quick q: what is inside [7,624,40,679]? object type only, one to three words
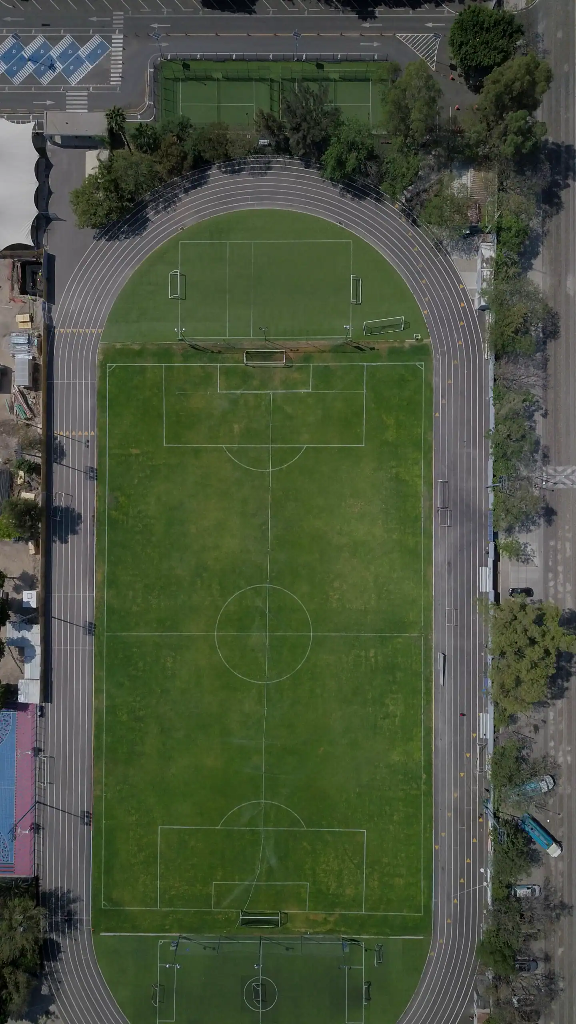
shed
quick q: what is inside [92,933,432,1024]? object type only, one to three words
soccer field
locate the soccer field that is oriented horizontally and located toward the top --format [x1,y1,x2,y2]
[101,208,430,343]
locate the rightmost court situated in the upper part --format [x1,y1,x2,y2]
[281,69,390,132]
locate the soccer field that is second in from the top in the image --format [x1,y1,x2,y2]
[91,343,434,935]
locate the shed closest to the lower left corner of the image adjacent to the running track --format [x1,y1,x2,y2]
[18,678,40,703]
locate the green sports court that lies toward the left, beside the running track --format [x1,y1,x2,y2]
[161,69,271,132]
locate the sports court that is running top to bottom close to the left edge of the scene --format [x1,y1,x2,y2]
[0,703,37,877]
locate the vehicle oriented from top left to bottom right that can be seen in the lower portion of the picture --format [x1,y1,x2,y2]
[515,808,560,856]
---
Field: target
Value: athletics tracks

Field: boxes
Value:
[39,156,486,1024]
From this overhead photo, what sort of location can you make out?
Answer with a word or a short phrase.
sports ground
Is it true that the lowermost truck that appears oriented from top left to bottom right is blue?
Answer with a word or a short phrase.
Yes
